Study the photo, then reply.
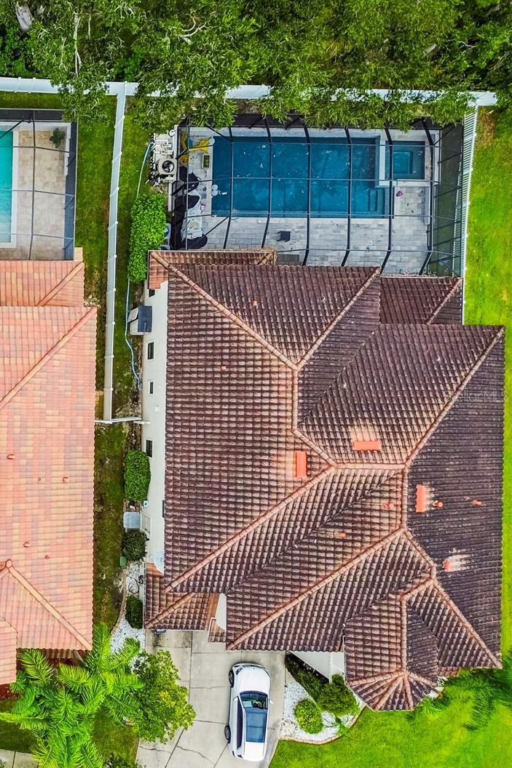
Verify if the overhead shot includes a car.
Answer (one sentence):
Yes, you can see a car in this photo.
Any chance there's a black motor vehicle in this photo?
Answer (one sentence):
No, the scene contains no black motor vehicle.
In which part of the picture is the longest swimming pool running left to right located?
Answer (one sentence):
The longest swimming pool running left to right sits in the top section of the image.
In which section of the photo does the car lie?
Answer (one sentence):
The car is located in the bottom region of the scene.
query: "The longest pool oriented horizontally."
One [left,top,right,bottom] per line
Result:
[168,124,429,222]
